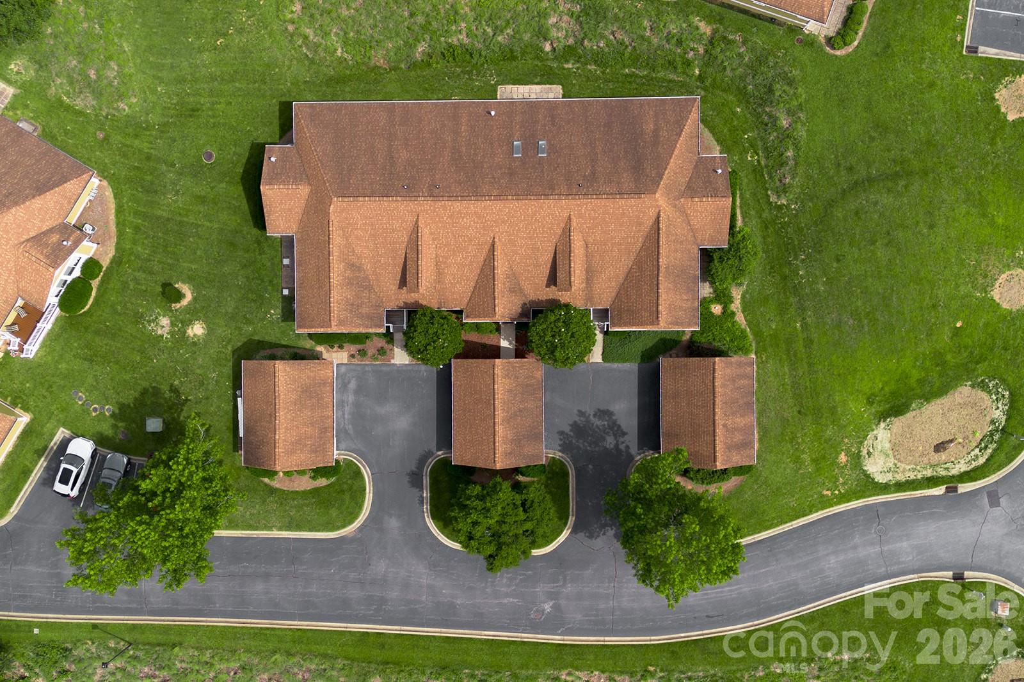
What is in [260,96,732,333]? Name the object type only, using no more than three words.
house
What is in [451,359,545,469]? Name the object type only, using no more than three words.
building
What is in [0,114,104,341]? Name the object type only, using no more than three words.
house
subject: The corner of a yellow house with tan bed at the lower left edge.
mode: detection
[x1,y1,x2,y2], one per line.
[0,400,28,461]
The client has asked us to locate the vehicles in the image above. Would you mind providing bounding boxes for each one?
[89,447,134,509]
[54,435,98,501]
